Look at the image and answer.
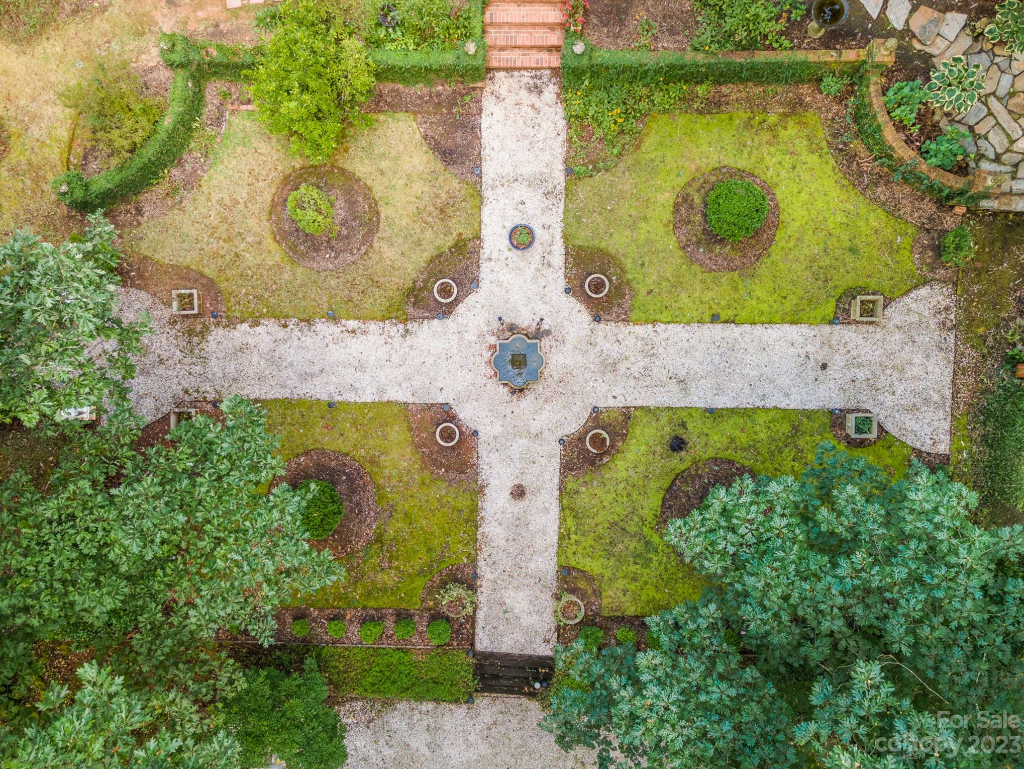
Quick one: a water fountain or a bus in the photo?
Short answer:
water fountain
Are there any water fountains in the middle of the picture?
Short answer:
Yes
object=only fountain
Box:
[491,335,545,389]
